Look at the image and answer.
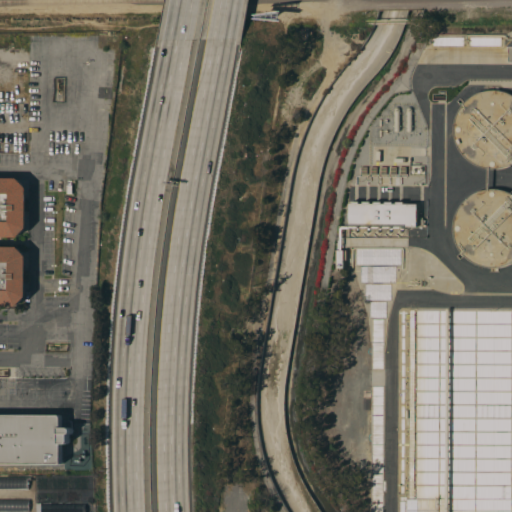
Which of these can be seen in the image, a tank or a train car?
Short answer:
tank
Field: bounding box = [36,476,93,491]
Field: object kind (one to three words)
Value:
house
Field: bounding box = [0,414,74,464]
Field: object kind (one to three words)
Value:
building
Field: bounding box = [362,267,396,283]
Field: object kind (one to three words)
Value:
shed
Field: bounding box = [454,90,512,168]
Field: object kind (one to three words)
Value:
storage tank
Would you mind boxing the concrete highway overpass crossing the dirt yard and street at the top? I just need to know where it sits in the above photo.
[155,0,248,48]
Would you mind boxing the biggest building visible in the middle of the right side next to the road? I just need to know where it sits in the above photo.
[348,202,416,226]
